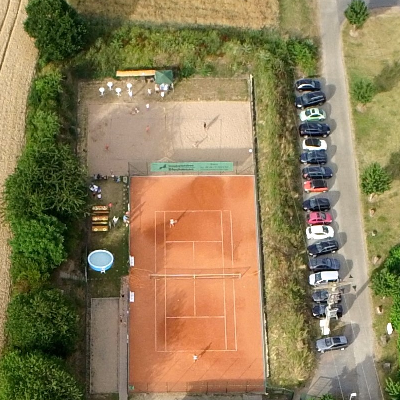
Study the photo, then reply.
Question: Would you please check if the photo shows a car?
Yes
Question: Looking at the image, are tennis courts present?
Yes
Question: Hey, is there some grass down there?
Yes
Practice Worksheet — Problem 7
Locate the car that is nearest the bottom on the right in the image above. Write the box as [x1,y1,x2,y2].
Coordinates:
[315,337,349,353]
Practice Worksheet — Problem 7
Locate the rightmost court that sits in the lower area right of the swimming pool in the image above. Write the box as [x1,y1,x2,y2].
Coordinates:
[128,176,266,394]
